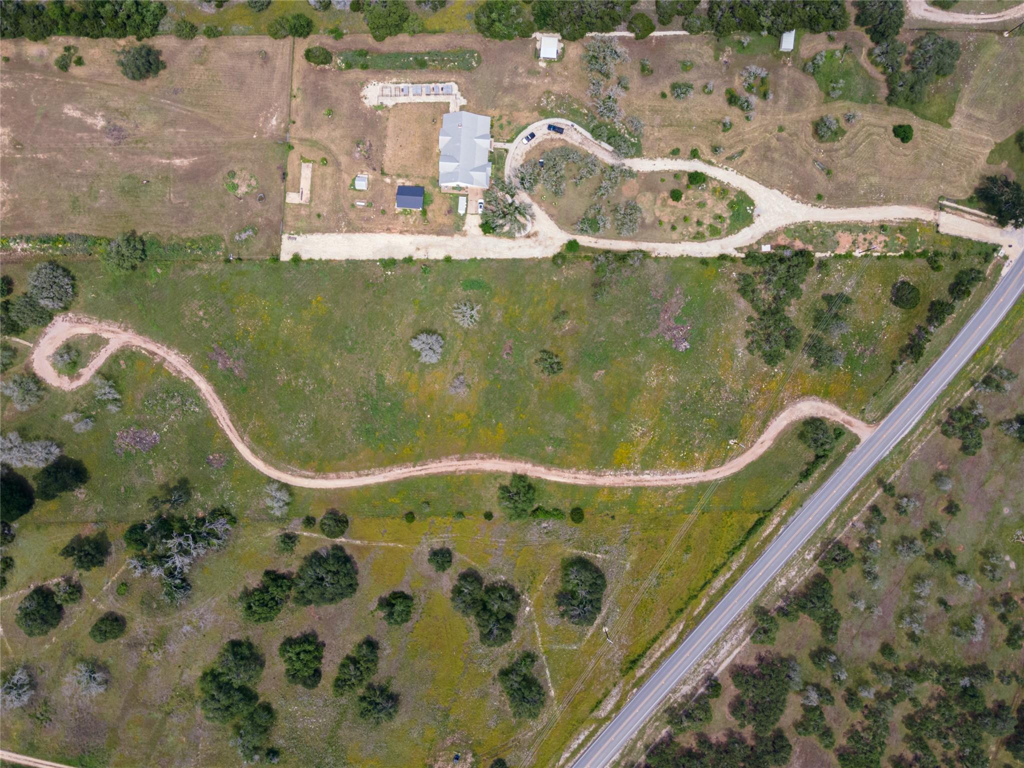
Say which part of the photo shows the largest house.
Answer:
top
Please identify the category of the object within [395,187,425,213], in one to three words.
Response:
shed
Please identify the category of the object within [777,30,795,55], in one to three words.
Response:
shed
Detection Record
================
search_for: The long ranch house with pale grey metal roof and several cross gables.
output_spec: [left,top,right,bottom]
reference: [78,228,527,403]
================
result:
[436,111,494,190]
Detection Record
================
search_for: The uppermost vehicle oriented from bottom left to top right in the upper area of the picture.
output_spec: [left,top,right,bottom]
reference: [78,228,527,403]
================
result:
[521,130,537,145]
